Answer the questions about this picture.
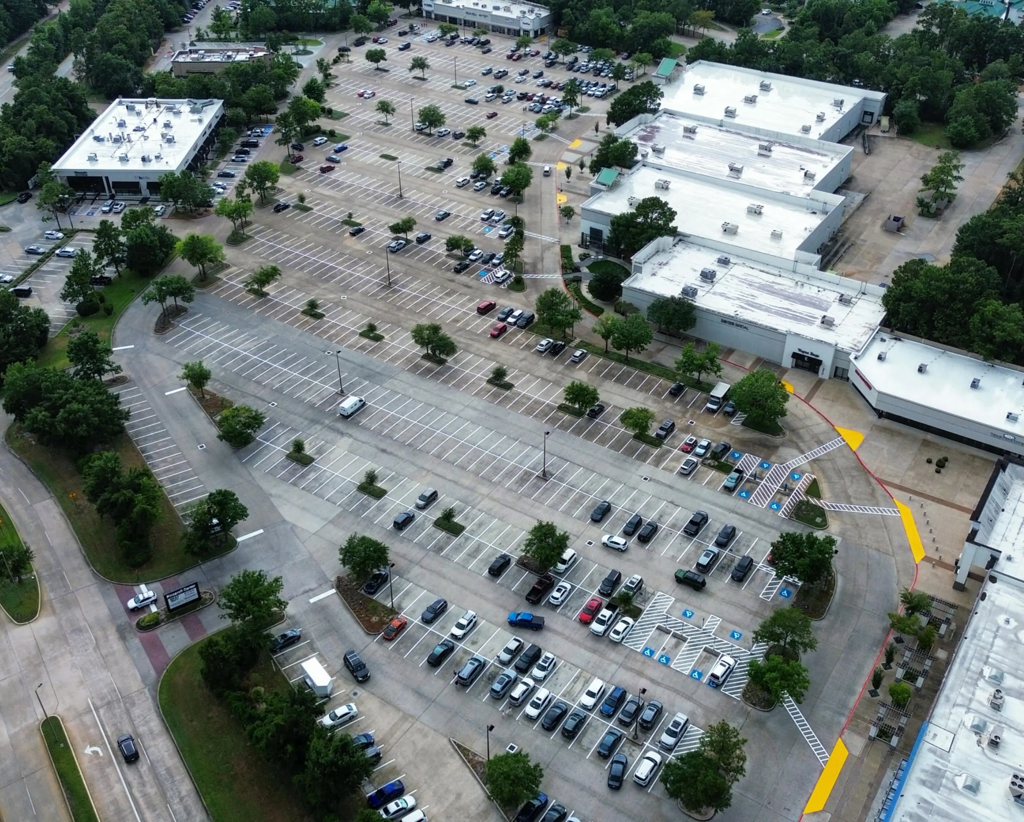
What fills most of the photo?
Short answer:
paved ground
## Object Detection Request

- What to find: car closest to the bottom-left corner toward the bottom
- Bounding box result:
[117,732,141,766]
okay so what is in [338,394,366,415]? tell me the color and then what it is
white vehicle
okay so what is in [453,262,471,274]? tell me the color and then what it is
black vehicle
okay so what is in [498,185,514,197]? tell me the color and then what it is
black vehicle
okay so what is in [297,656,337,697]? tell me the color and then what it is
white trailer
